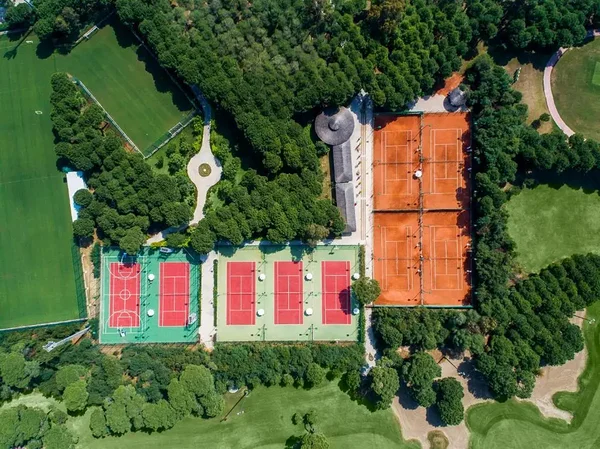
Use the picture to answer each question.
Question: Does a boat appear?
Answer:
No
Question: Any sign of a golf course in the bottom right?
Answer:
Yes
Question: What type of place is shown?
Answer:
sports ground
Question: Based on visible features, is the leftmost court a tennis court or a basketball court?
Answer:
basketball court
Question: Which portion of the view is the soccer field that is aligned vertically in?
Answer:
left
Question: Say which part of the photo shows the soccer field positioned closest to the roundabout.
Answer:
top left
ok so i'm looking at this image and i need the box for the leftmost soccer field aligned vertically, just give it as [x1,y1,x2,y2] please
[0,31,81,329]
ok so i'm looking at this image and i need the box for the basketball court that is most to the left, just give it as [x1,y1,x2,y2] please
[100,247,151,343]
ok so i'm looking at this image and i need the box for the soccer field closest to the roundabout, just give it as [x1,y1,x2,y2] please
[60,15,196,155]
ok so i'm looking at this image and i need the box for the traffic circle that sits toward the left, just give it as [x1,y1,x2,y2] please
[187,129,223,222]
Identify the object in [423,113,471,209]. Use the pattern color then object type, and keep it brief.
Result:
orange tennis court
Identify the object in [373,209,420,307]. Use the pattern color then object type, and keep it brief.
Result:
orange tennis court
